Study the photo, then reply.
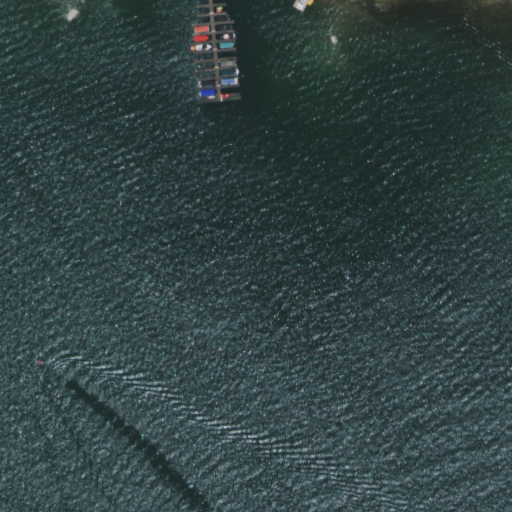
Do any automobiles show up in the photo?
No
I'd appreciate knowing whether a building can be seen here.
No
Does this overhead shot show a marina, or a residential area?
marina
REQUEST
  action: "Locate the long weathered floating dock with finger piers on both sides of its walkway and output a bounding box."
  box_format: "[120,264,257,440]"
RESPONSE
[191,0,241,104]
